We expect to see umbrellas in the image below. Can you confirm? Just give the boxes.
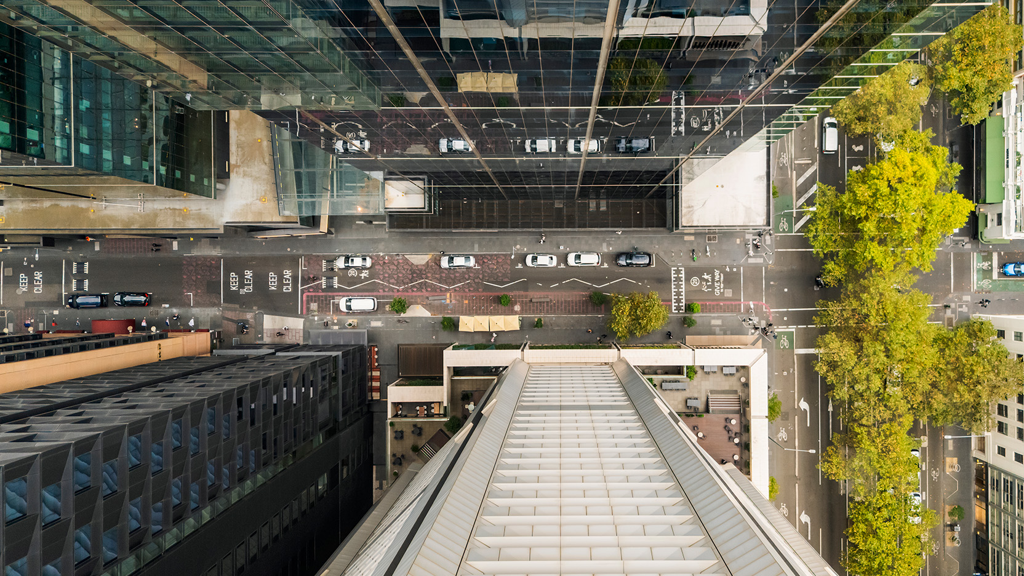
[474,316,489,331]
[489,316,504,331]
[459,316,474,331]
[504,315,519,330]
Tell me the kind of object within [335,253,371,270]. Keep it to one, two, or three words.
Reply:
car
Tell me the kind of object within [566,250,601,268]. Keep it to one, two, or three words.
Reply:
car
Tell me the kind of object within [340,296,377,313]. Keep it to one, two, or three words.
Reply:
vehicle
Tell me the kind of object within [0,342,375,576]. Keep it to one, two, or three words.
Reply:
building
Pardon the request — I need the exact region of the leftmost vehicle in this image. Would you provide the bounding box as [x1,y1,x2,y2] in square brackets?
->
[69,293,109,310]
